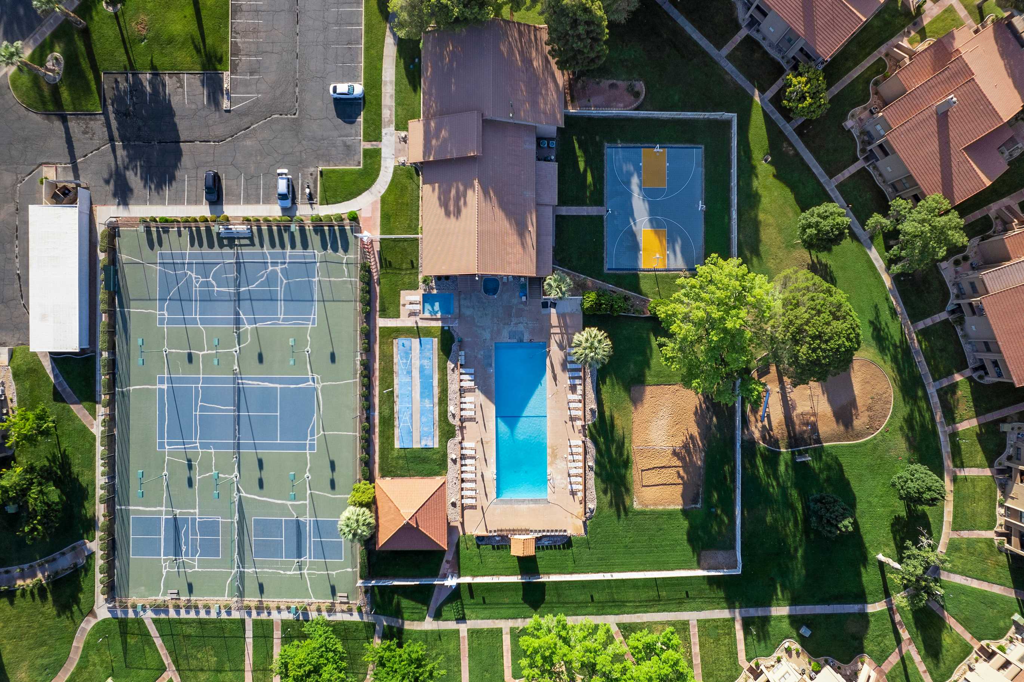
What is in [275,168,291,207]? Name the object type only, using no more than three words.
car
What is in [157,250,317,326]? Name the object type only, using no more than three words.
tennis court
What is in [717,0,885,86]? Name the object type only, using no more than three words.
building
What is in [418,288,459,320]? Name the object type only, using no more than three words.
swimming pool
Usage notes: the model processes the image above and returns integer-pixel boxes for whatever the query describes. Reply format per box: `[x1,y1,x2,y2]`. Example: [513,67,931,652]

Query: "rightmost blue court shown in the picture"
[607,147,702,270]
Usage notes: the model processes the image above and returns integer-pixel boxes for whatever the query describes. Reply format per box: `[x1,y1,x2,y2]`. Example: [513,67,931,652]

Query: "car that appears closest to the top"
[328,81,362,97]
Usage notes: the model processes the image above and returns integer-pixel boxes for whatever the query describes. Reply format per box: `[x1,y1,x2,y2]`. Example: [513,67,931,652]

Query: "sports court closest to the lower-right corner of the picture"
[631,384,706,511]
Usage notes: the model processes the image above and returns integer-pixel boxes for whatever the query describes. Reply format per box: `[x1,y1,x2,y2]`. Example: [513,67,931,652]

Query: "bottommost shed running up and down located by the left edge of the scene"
[28,204,91,351]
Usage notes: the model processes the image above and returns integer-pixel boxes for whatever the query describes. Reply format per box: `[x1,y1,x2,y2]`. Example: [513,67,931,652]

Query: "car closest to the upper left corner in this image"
[201,169,219,201]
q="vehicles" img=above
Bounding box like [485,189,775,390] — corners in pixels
[328,81,362,97]
[275,168,291,207]
[303,183,309,197]
[201,169,219,201]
